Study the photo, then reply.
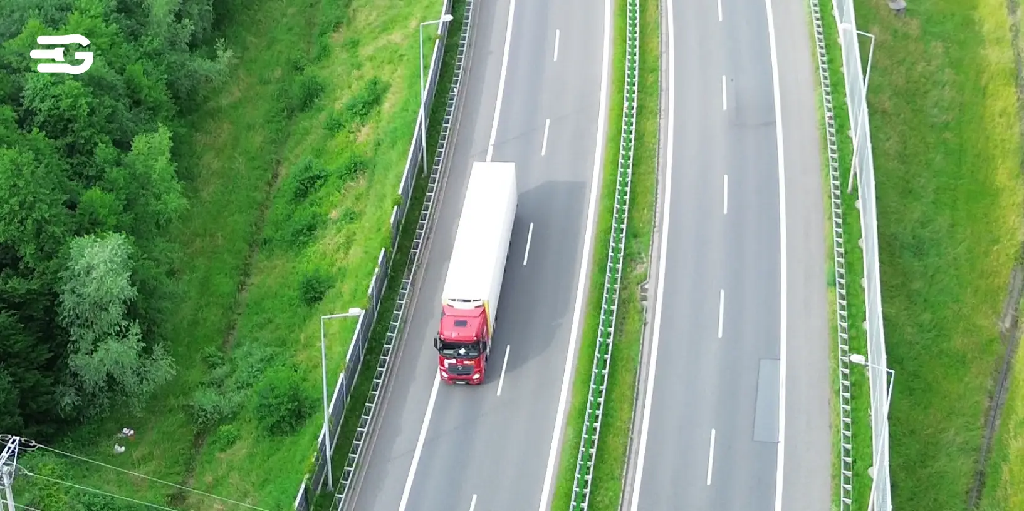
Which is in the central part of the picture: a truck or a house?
truck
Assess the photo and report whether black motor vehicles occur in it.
No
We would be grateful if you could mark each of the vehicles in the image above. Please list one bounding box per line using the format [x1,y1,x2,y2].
[431,162,515,384]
